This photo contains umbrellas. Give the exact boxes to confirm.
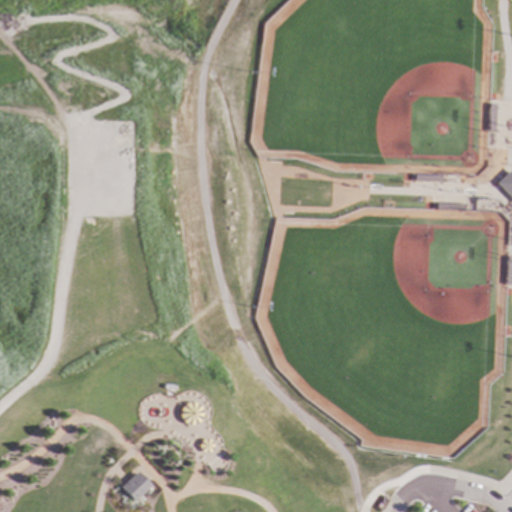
[202,438,216,454]
[184,402,206,426]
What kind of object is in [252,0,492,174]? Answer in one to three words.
baseball field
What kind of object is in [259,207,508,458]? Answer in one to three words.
baseball field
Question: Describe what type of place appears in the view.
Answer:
sports ground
